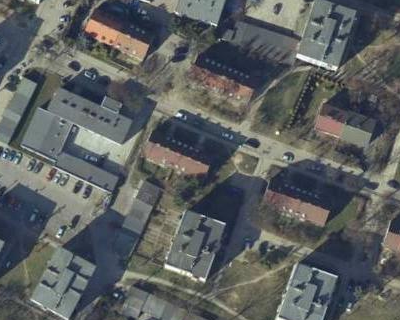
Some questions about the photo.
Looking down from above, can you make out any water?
No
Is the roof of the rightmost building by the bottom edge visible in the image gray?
Yes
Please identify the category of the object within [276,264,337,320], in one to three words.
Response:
building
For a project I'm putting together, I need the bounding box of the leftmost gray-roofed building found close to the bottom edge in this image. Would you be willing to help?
[32,245,96,320]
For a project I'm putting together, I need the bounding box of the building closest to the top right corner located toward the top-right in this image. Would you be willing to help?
[296,0,356,72]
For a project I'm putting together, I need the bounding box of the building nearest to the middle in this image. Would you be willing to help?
[144,128,214,179]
